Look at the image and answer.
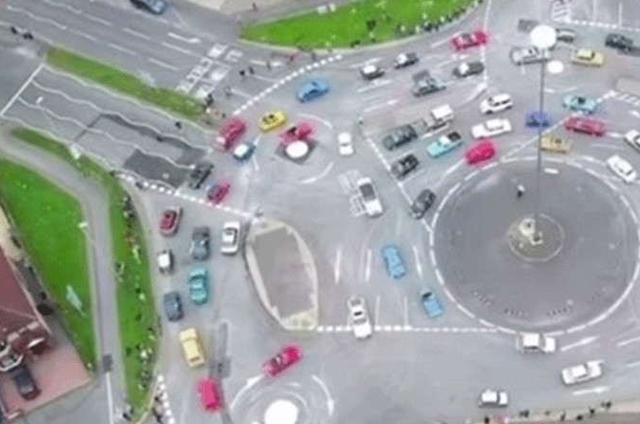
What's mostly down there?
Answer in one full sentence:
The largest share of the image is taken up by paved ground.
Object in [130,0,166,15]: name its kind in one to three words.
car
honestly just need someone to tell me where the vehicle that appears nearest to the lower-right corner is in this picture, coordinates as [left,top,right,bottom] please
[559,361,605,386]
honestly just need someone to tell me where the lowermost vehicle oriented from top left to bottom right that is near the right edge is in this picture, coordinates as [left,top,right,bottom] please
[605,153,639,185]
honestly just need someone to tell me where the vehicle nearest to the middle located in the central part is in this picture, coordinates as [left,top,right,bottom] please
[356,179,384,215]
